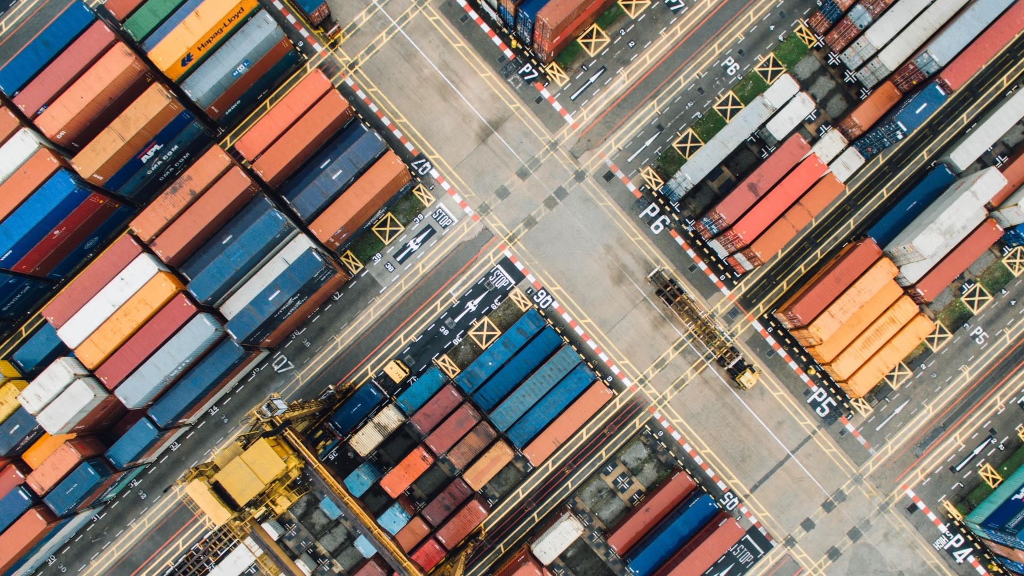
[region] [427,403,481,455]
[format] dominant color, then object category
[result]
red shipping container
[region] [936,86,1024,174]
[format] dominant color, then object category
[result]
white shipping container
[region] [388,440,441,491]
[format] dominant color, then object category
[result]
red shipping container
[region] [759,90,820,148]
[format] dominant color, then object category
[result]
white shipping container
